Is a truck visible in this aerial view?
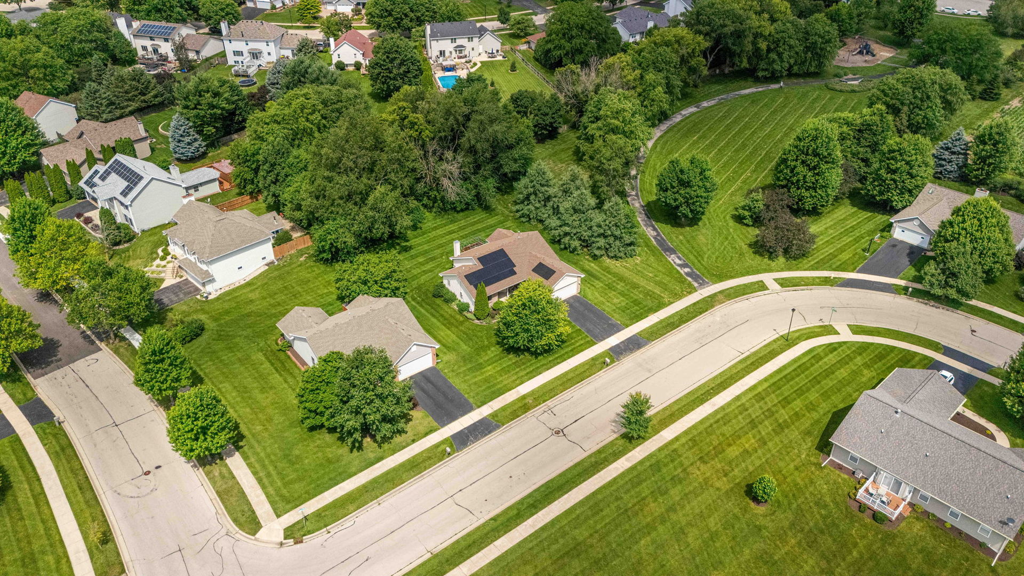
No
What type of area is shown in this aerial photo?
residential area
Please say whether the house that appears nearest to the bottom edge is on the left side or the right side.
right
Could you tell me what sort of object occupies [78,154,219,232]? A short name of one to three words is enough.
house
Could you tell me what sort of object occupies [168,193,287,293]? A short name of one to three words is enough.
house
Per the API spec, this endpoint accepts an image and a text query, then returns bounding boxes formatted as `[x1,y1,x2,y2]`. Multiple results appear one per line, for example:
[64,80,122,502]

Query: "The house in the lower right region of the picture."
[823,367,1024,564]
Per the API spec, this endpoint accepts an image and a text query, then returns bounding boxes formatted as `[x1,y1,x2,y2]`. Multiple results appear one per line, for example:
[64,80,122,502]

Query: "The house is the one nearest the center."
[440,228,586,313]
